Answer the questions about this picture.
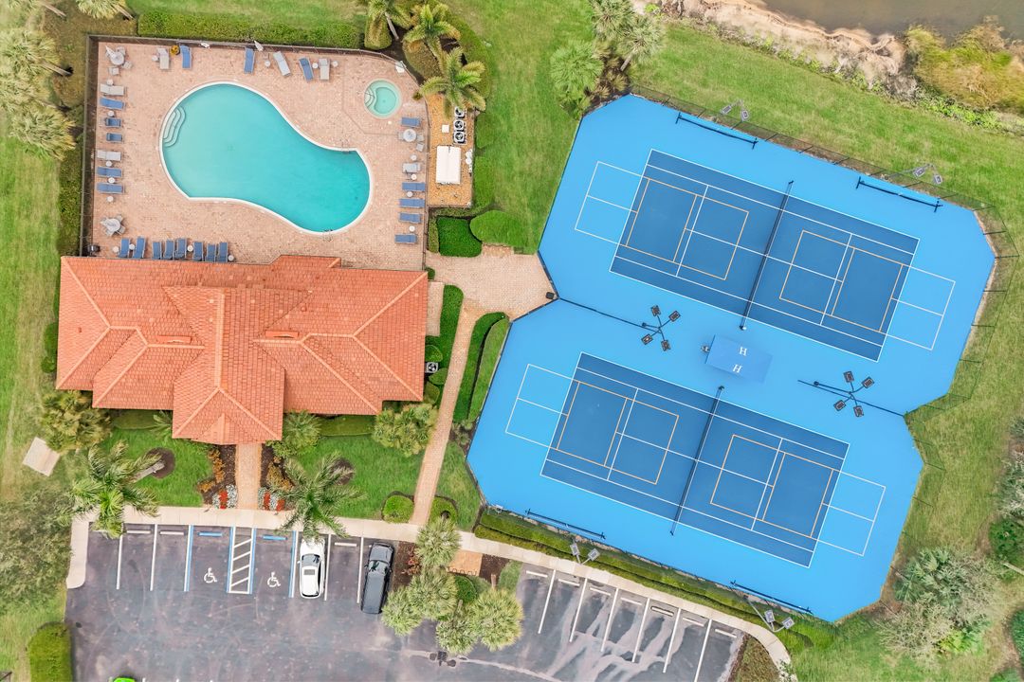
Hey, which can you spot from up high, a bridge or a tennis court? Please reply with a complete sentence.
It is a tennis court that can be seen here.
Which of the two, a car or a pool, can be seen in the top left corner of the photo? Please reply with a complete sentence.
There is a pool in the top left corner of the photo.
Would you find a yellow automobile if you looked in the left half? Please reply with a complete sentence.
No, the scene shows no yellow automobile in the left half.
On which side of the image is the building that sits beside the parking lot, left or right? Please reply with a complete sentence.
It is on the left.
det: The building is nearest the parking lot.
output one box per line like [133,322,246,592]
[55,254,428,449]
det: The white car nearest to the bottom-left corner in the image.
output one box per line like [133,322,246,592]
[296,541,324,600]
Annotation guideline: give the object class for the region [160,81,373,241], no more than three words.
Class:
swimming pool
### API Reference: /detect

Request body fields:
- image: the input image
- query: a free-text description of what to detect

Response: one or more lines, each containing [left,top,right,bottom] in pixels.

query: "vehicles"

[361,546,393,619]
[111,677,135,682]
[296,541,324,600]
